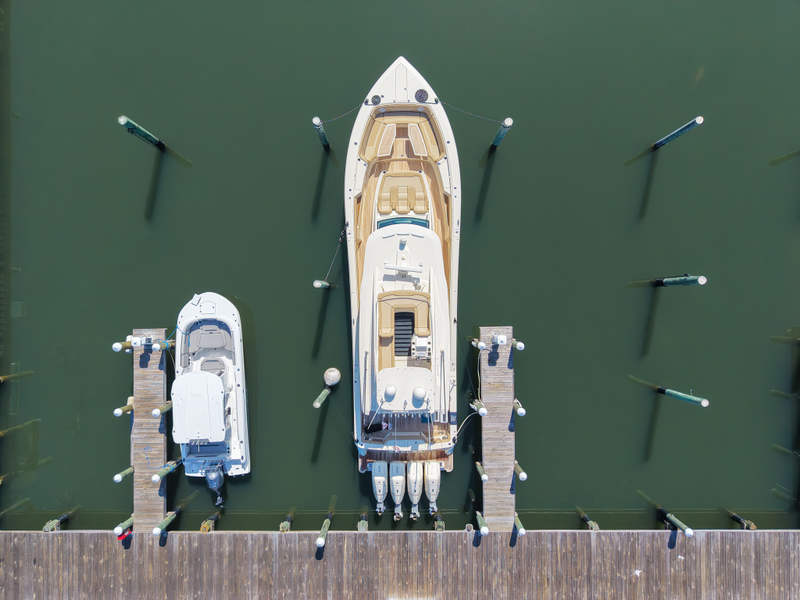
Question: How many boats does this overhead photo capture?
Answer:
two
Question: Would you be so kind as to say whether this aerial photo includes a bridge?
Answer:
No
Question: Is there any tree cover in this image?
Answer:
No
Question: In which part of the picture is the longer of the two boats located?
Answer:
center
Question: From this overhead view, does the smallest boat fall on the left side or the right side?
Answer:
left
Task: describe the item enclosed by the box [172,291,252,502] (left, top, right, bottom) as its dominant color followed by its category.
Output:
white boat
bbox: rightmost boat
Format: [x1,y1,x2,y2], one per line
[345,55,462,515]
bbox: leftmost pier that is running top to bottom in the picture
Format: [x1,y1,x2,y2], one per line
[132,330,170,531]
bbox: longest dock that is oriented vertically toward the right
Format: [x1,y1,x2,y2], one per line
[478,327,515,531]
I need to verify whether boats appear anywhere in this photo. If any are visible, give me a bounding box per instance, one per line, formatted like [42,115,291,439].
[345,55,462,515]
[172,291,252,502]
